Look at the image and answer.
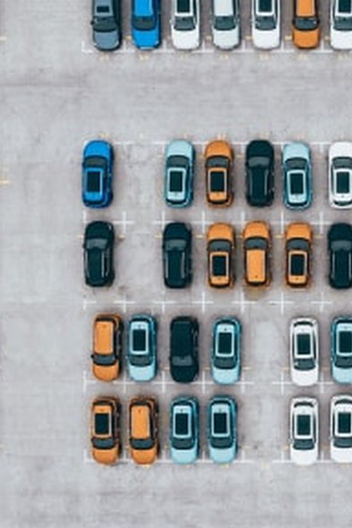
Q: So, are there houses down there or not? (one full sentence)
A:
No, no house is visible in the view.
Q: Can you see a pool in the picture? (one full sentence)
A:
No, I find no pool anywhere in the image.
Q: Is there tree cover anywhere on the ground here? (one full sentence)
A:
No, there is no tree cover in the image.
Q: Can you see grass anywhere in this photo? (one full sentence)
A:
No, there is no grass in the image.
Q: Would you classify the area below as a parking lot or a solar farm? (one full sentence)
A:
What you see here is a parking lot.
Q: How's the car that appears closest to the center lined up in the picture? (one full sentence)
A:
From this overhead view, the car that appears closest to the center appears to run vertically.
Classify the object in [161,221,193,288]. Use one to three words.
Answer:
car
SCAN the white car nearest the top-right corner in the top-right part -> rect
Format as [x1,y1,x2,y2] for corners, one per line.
[329,0,352,51]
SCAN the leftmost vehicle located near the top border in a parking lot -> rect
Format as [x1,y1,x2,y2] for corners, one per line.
[90,0,123,51]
